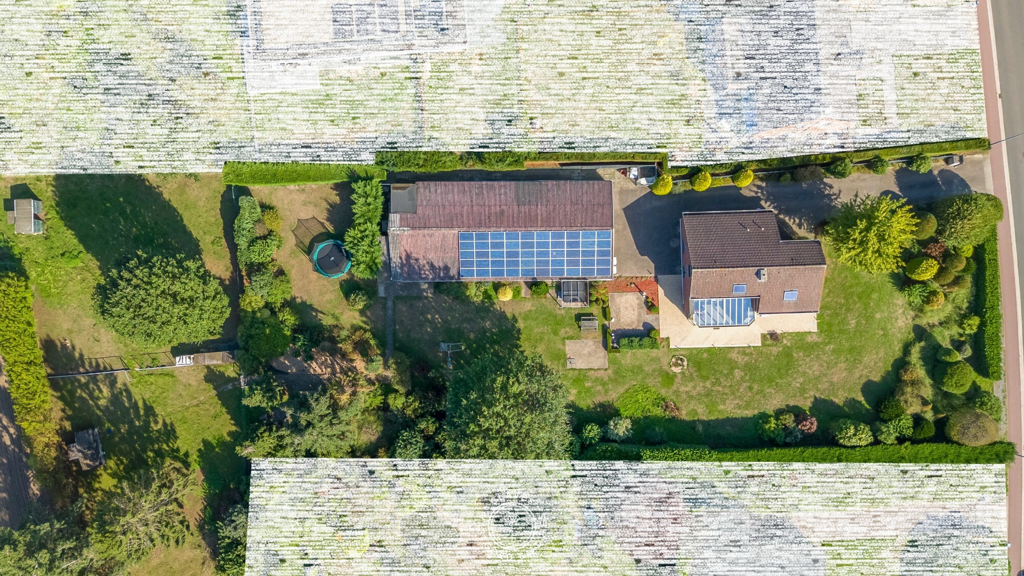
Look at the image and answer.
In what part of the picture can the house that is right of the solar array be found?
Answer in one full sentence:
Look in the right portion of the view to spot the house that is right of the solar array.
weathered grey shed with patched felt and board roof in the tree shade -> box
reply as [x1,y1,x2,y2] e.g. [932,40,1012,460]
[67,427,105,470]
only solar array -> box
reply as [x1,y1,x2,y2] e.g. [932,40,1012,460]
[459,231,615,278]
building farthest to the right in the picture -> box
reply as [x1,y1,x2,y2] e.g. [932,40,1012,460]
[678,208,828,326]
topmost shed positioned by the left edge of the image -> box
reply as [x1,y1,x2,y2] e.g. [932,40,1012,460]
[7,199,48,234]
